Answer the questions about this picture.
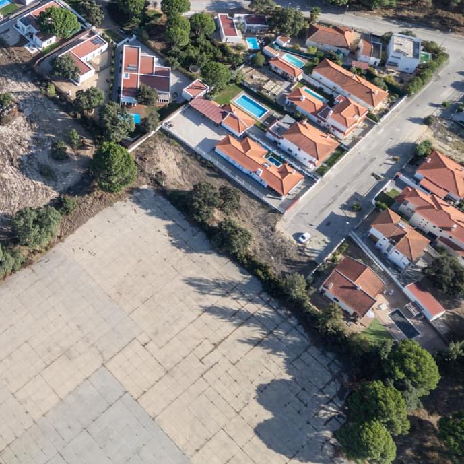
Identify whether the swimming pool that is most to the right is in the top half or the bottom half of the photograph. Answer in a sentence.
You can find the swimming pool that is most to the right in the bottom half.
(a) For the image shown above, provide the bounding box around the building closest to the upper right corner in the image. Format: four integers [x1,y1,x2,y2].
[383,33,420,75]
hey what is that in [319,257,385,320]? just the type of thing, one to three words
house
